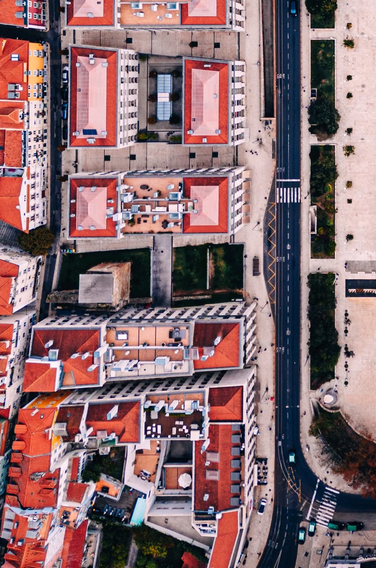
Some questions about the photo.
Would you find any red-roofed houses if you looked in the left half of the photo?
Yes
